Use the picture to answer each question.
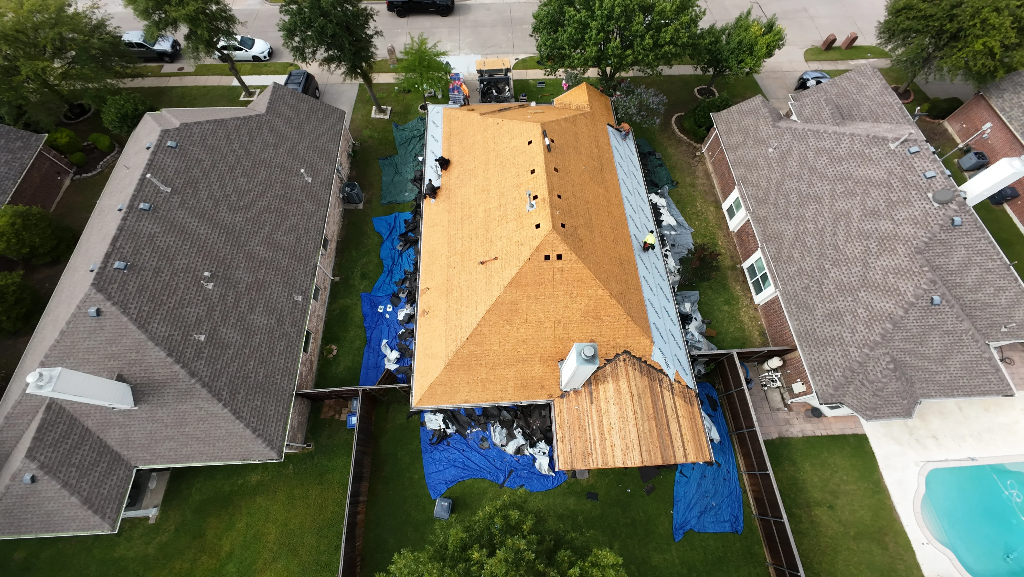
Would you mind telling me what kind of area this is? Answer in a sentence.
The picture captures a residential area.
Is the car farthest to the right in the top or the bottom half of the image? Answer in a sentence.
Seen from above, the car farthest to the right lies in the top half of the view.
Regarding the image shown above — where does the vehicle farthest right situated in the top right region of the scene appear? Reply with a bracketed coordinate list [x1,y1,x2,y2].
[792,67,830,91]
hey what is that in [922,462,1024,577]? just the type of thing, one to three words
swimming pool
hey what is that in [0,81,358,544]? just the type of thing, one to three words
house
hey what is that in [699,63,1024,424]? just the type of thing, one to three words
house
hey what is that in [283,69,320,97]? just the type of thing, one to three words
car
